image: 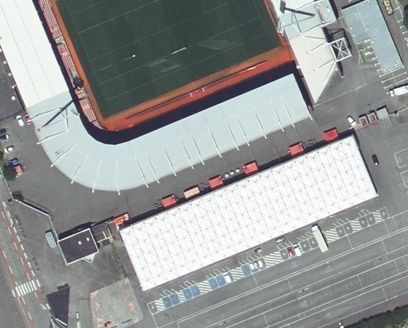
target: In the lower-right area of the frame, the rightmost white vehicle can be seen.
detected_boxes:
[312,226,328,252]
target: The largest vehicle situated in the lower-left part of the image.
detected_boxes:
[44,230,58,249]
